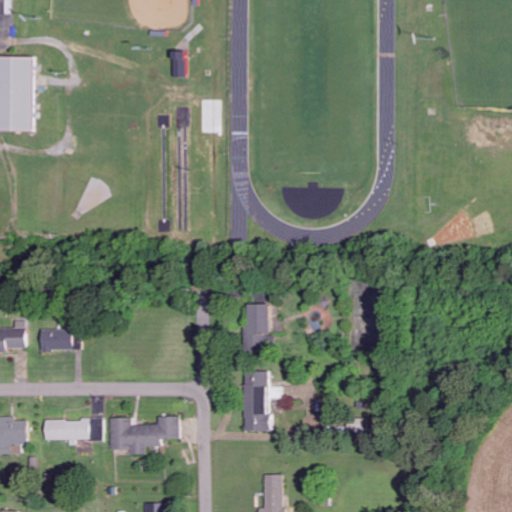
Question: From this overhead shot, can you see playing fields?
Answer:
Yes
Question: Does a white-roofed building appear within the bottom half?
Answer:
Yes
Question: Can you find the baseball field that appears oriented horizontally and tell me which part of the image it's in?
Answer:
top left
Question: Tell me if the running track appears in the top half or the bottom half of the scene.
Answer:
top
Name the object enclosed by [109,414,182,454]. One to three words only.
house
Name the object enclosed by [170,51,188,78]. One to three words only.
building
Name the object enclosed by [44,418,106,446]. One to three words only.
house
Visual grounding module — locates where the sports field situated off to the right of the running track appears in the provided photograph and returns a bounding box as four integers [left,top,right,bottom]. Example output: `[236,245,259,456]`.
[445,0,512,108]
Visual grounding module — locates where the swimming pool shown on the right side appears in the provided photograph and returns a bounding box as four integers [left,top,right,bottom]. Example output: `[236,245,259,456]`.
[308,312,320,330]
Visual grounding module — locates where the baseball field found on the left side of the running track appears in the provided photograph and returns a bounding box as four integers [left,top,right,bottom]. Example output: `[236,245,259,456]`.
[52,0,190,29]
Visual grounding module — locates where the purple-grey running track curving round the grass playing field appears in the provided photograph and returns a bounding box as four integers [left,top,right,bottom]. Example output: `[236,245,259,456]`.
[232,0,396,246]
